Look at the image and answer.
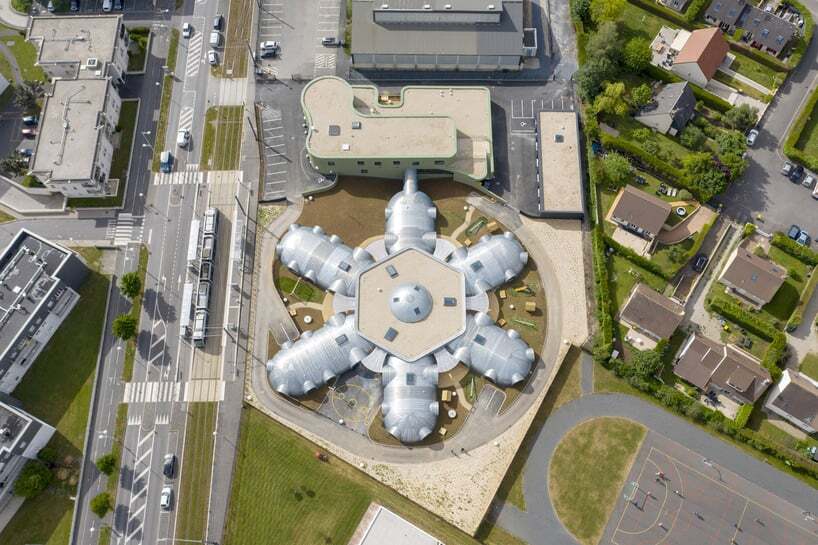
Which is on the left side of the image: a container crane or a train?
train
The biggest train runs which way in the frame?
vertically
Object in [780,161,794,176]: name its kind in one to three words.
car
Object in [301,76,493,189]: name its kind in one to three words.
building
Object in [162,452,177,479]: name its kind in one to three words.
car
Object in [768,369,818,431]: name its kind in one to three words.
house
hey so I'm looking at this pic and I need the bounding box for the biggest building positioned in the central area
[263,167,537,446]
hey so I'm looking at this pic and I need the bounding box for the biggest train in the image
[193,209,220,346]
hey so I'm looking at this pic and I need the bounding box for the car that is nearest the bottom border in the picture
[159,486,173,510]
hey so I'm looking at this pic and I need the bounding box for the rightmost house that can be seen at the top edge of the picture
[728,0,799,54]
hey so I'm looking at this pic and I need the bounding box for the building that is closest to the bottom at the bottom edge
[357,505,448,545]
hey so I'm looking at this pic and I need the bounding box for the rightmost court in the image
[602,430,818,545]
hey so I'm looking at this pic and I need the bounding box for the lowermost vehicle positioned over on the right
[693,253,709,273]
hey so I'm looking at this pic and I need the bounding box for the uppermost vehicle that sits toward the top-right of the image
[746,129,759,145]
